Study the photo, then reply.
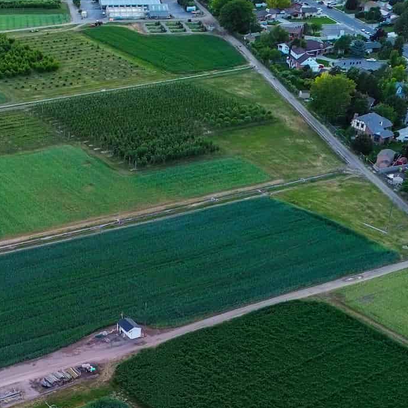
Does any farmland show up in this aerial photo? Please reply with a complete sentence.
Yes, farmland shows up in the scene.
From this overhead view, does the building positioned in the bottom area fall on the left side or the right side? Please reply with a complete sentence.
The building positioned in the bottom area sits on the left side.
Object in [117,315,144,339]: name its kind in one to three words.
building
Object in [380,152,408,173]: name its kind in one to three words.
shed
